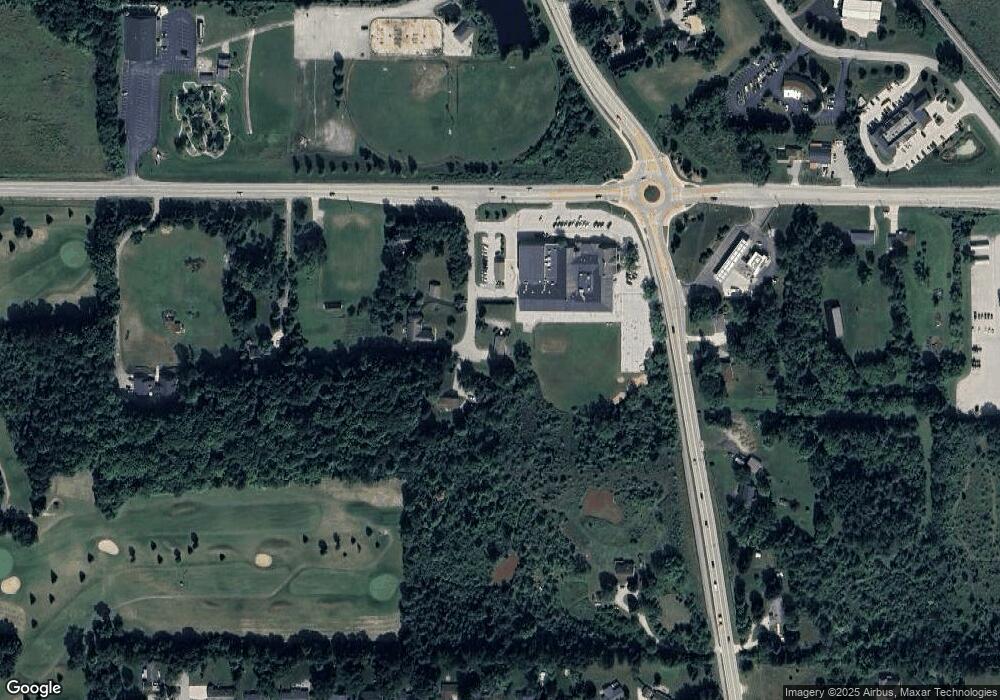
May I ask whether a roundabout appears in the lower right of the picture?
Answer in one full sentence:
No, there is no roundabout in the lower right of the picture.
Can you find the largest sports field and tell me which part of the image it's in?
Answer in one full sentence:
The largest sports field appears toward the top of the photo.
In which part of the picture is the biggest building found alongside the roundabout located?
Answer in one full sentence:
The biggest building found alongside the roundabout appears toward the center of the photo.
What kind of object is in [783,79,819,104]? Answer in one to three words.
building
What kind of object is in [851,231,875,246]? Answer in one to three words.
house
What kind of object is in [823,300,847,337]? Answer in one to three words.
barn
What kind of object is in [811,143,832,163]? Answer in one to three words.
building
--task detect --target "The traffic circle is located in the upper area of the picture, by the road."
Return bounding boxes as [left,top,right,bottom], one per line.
[600,149,704,240]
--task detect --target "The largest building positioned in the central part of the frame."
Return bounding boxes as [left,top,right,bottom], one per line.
[519,245,620,311]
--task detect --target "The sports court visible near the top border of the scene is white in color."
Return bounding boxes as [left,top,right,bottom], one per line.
[369,19,442,57]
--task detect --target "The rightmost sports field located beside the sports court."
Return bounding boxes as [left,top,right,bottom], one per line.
[344,58,559,167]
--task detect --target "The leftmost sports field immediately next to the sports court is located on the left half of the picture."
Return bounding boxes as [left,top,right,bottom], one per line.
[294,61,368,156]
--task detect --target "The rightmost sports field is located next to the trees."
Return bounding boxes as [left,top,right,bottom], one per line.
[534,323,647,408]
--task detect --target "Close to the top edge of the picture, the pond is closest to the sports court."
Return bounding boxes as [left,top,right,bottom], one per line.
[486,0,533,56]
